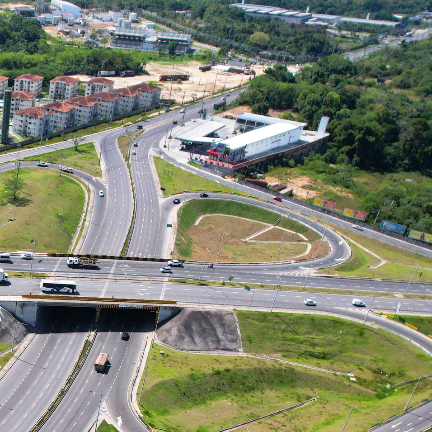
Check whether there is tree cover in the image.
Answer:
Yes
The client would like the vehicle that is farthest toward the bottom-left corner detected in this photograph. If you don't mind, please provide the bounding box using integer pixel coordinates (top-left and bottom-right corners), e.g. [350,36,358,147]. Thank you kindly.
[95,351,109,371]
